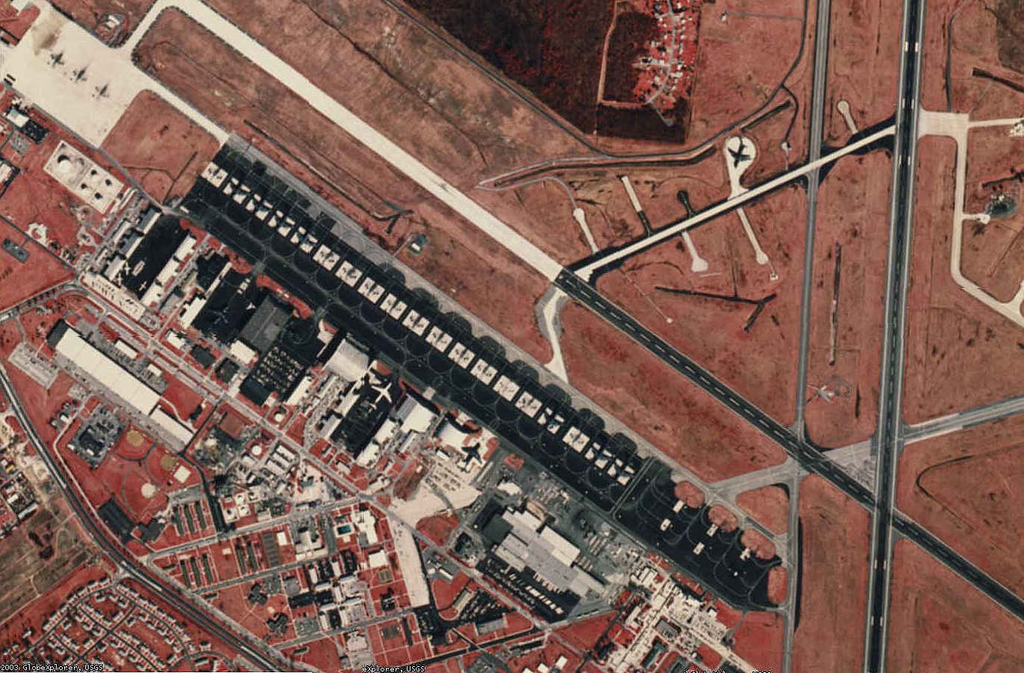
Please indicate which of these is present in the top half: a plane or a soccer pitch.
plane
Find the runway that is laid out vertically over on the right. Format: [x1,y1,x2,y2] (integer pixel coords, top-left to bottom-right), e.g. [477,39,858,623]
[863,0,926,673]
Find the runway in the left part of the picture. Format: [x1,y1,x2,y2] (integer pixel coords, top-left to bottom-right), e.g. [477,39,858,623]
[176,0,563,281]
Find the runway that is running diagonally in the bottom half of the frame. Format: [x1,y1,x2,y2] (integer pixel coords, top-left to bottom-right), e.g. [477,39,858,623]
[554,268,1024,621]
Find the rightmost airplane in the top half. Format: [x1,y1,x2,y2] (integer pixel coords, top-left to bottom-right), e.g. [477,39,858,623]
[729,142,751,168]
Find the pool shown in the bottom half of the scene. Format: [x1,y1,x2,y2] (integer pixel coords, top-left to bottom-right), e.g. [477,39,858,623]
[335,525,354,537]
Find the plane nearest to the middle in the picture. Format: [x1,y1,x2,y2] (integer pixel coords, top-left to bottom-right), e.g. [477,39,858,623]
[544,408,567,434]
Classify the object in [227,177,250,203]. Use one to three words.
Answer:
airplane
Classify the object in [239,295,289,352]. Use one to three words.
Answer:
hangar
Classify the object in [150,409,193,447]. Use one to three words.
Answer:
building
